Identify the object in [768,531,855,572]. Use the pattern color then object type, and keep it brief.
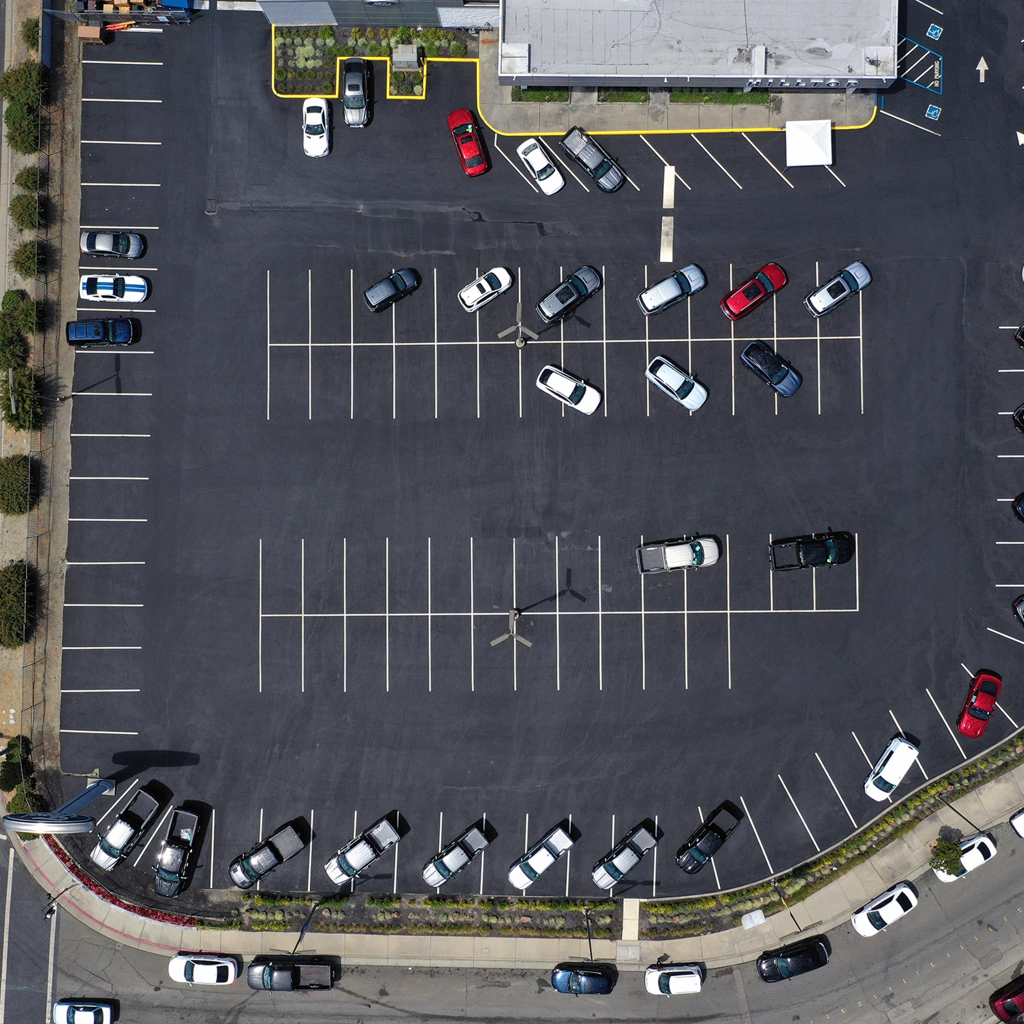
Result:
black truck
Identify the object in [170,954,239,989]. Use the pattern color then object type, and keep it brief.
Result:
white car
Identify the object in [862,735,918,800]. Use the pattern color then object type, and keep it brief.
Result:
white car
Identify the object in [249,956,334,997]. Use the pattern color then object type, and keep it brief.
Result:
gray truck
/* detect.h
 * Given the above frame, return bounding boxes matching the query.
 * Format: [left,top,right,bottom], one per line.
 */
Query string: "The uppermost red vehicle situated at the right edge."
[957,672,1002,739]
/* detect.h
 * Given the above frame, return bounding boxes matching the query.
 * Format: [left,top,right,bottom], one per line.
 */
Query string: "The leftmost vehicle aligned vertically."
[150,805,202,896]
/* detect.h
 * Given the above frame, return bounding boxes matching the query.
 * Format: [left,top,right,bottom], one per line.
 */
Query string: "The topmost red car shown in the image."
[449,109,488,179]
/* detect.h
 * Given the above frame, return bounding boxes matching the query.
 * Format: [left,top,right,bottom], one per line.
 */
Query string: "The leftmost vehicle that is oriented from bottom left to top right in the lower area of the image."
[91,786,163,870]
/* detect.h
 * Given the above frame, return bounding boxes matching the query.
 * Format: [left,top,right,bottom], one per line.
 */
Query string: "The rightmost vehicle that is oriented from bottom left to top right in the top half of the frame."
[802,262,871,322]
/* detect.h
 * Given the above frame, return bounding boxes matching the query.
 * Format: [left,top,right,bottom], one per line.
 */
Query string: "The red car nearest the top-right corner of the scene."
[718,263,787,323]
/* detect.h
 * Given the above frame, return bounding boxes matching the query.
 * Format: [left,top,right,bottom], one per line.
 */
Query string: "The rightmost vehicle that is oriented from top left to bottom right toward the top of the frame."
[738,341,799,398]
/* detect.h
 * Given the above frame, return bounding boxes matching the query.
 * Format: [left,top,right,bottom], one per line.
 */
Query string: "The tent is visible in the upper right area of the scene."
[779,120,832,175]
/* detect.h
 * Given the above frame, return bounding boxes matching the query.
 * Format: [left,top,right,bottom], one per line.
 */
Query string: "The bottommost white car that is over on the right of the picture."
[643,963,702,1001]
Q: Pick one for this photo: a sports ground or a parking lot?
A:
parking lot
